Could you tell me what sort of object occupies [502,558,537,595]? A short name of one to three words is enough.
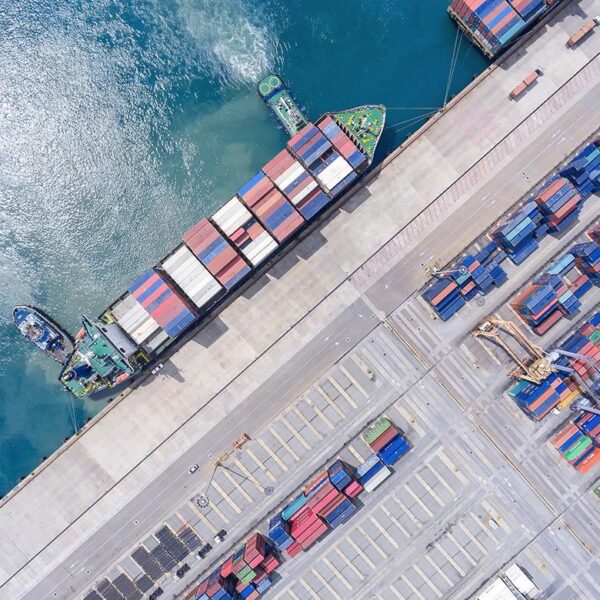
shed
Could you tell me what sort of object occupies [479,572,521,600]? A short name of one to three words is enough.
shed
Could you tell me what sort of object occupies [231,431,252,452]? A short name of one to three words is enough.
vehicle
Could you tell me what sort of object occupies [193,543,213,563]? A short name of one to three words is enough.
vehicle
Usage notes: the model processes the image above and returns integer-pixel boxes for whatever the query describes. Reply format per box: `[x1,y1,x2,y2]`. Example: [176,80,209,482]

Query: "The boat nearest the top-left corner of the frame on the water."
[255,79,309,142]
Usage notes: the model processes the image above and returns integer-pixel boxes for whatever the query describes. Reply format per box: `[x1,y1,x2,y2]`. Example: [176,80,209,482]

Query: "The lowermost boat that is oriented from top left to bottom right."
[15,304,78,363]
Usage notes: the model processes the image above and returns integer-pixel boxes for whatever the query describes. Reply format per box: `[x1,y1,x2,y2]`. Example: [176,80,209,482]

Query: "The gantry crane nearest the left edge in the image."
[471,316,560,387]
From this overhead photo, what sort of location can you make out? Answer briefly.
port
